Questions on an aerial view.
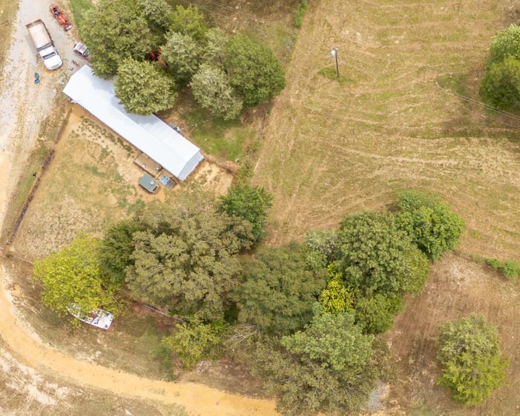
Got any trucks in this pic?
Yes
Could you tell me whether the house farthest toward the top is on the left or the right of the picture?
left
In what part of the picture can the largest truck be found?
top left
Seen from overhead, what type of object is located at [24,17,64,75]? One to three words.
truck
